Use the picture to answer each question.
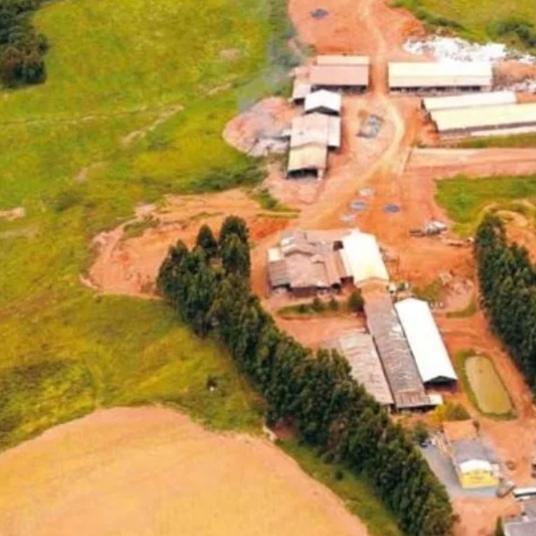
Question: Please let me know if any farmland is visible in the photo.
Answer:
Yes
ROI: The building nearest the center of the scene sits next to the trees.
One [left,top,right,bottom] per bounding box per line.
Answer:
[268,231,351,298]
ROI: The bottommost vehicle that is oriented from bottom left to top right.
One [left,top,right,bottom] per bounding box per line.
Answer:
[496,477,516,498]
